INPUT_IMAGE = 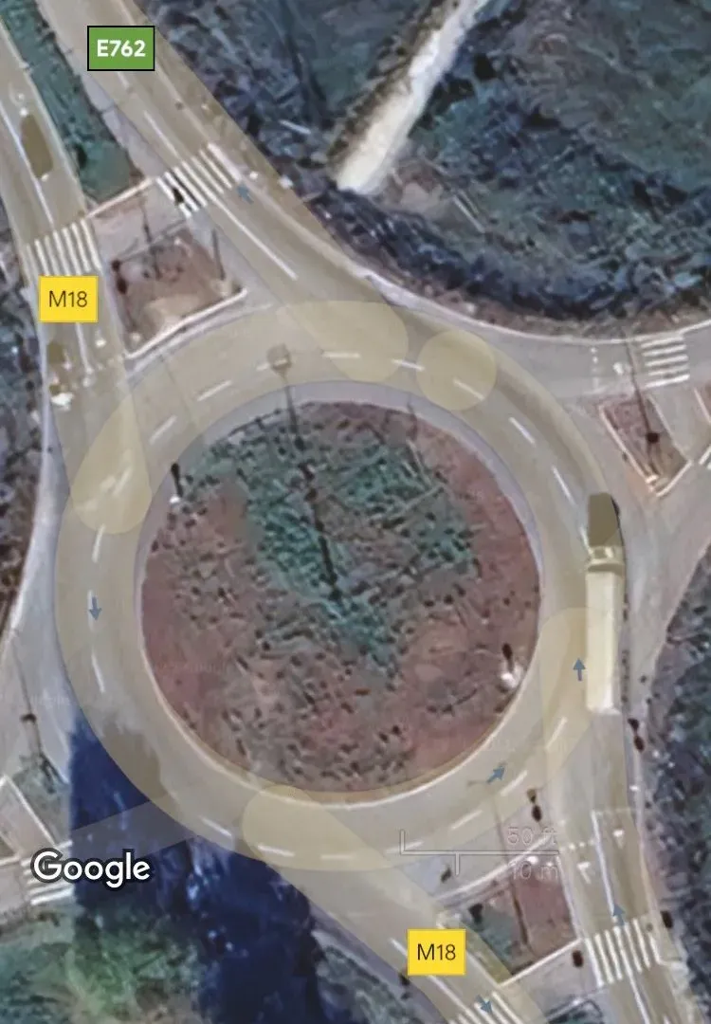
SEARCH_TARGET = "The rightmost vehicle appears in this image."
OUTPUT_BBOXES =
[588,527,621,712]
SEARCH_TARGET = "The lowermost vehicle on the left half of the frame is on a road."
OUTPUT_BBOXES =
[51,365,74,409]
